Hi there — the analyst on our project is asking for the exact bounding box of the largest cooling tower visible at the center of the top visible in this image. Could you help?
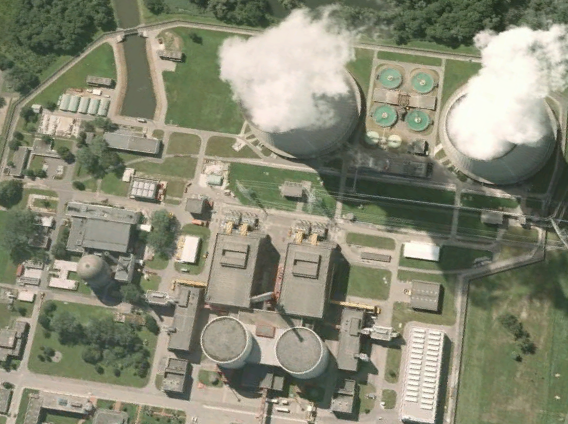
[245,44,359,157]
